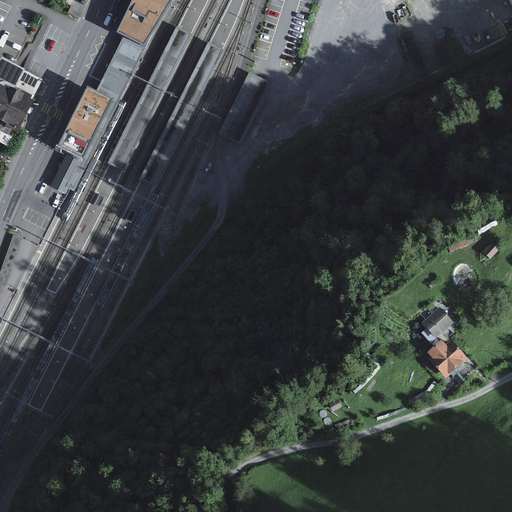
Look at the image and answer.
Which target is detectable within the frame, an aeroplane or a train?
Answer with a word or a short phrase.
train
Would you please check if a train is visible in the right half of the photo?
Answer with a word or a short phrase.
No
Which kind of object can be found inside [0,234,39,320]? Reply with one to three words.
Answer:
building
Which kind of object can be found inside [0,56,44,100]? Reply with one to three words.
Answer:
building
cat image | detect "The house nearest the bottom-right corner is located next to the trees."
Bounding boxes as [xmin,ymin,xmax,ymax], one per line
[428,339,474,384]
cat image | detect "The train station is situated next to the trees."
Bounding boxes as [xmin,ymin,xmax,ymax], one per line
[0,0,244,410]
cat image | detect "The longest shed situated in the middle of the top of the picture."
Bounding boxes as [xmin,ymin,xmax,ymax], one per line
[220,72,268,142]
